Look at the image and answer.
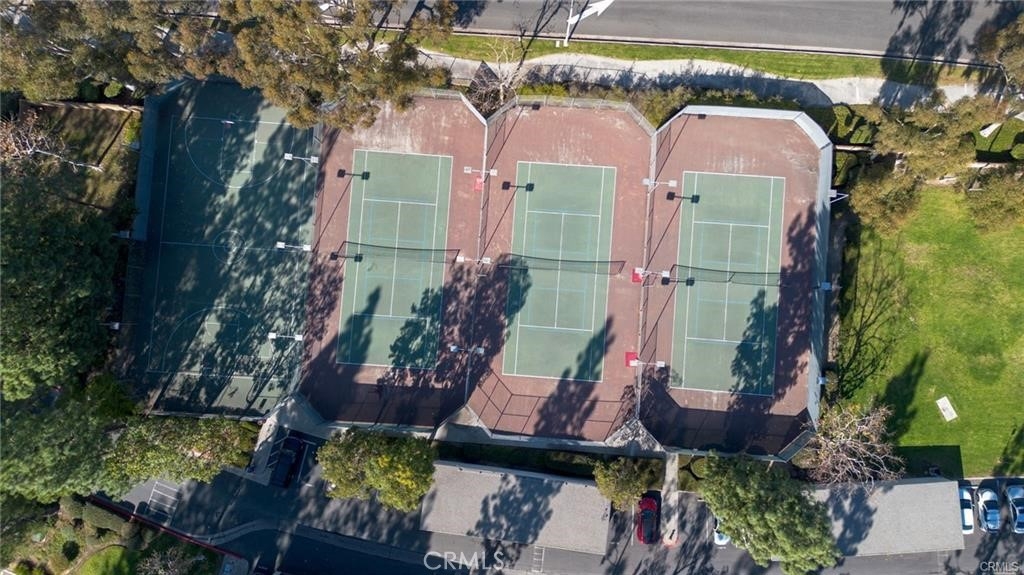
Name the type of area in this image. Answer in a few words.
sports ground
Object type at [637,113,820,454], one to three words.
tennis court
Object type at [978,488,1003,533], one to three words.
car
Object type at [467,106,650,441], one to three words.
tennis court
